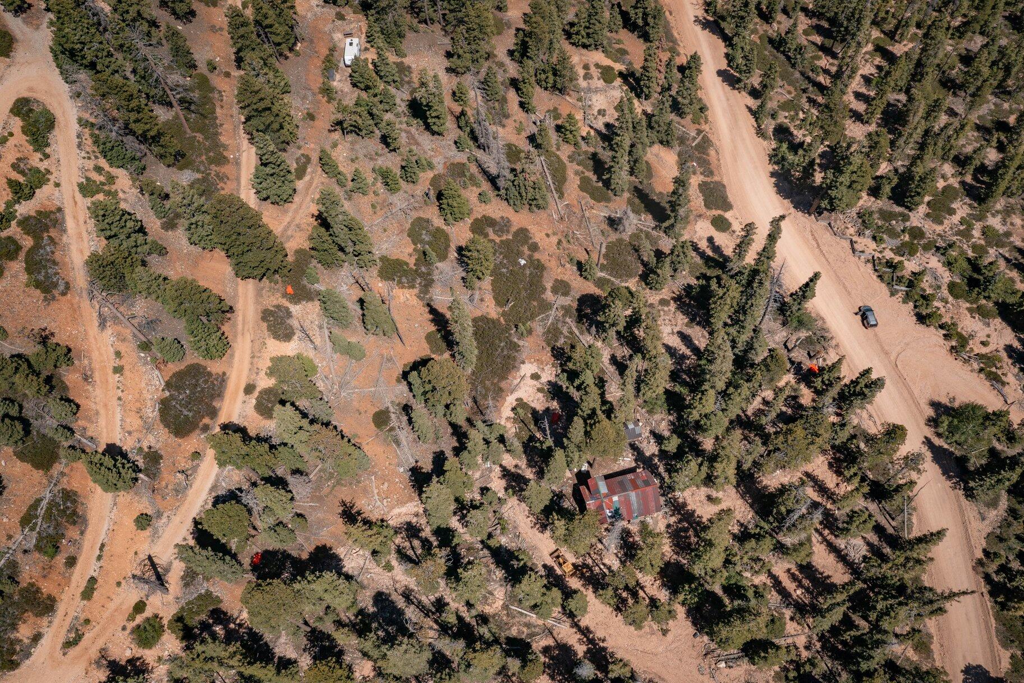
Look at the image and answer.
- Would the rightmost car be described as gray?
Yes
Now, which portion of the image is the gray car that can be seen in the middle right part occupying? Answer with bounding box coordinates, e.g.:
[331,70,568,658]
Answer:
[857,305,878,330]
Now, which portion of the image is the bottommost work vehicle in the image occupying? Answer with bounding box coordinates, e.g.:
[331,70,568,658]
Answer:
[550,548,586,576]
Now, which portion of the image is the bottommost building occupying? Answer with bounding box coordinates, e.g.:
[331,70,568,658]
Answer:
[580,469,661,529]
